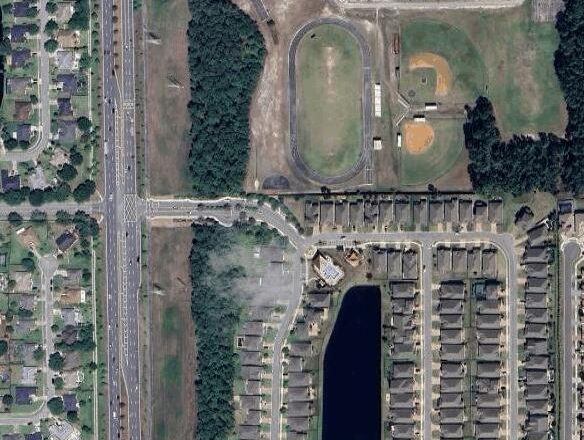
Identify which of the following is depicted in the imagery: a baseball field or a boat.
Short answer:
baseball field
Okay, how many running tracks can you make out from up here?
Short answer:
one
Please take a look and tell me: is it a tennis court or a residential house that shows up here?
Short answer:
residential house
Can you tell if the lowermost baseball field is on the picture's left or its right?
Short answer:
right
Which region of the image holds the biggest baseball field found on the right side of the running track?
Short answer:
top right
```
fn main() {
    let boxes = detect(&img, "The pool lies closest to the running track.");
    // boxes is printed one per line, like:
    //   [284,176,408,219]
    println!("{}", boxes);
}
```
[313,256,345,286]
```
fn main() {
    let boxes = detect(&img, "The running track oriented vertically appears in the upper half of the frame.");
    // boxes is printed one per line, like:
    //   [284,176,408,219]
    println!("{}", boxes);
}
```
[289,18,371,184]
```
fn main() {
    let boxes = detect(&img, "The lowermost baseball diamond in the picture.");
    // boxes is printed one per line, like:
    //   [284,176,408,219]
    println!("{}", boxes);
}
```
[401,118,466,184]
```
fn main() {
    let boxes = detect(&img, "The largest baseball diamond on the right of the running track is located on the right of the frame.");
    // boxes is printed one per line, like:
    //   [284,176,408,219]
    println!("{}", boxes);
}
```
[401,19,485,105]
